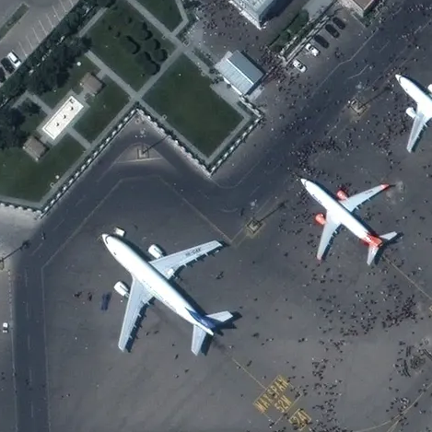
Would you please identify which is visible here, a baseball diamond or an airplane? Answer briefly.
airplane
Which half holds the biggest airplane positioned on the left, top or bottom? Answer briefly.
bottom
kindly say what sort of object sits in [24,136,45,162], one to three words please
gazebo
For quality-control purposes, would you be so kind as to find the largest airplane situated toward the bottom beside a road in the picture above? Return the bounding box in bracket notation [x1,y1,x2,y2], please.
[103,233,234,353]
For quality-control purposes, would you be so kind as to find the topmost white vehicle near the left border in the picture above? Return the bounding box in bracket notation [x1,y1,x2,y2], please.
[6,52,22,68]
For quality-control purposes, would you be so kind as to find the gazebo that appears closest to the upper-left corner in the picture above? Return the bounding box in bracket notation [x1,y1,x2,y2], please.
[82,71,103,96]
